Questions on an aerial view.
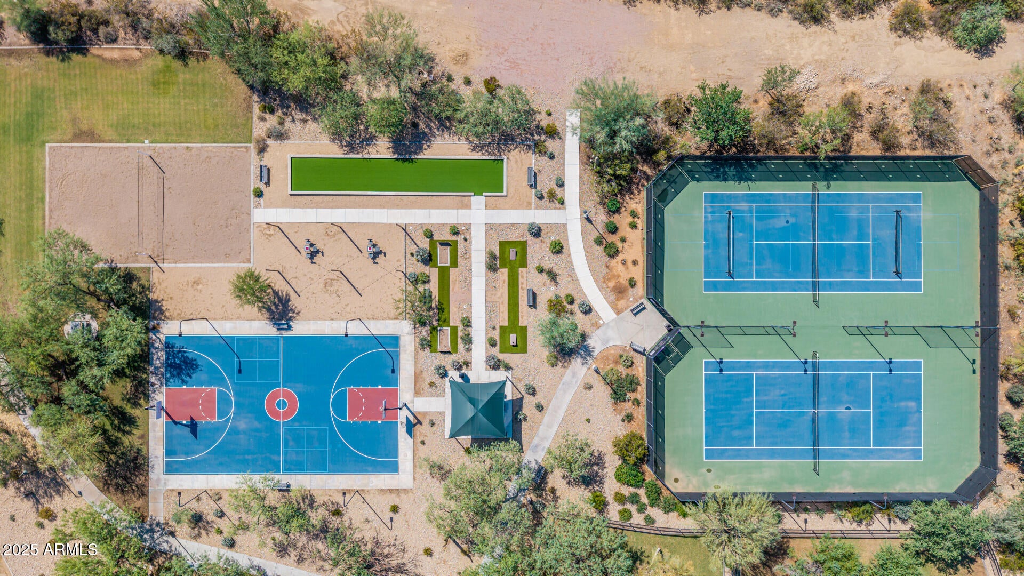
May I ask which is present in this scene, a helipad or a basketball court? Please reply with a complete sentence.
The one in the frame is a basketball court.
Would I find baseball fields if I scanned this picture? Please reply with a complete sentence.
No, no baseball field is visible in the scene.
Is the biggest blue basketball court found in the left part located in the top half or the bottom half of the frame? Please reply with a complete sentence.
It is in the bottom half that the biggest blue basketball court found in the left part appears.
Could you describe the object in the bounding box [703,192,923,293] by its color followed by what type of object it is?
blue tennis court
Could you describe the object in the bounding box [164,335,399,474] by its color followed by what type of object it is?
blue basketball court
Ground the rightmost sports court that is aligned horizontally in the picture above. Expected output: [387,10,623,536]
[835,214,959,271]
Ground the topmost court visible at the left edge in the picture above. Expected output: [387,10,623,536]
[45,144,254,267]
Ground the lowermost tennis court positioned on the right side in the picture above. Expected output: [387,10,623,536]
[703,360,923,461]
